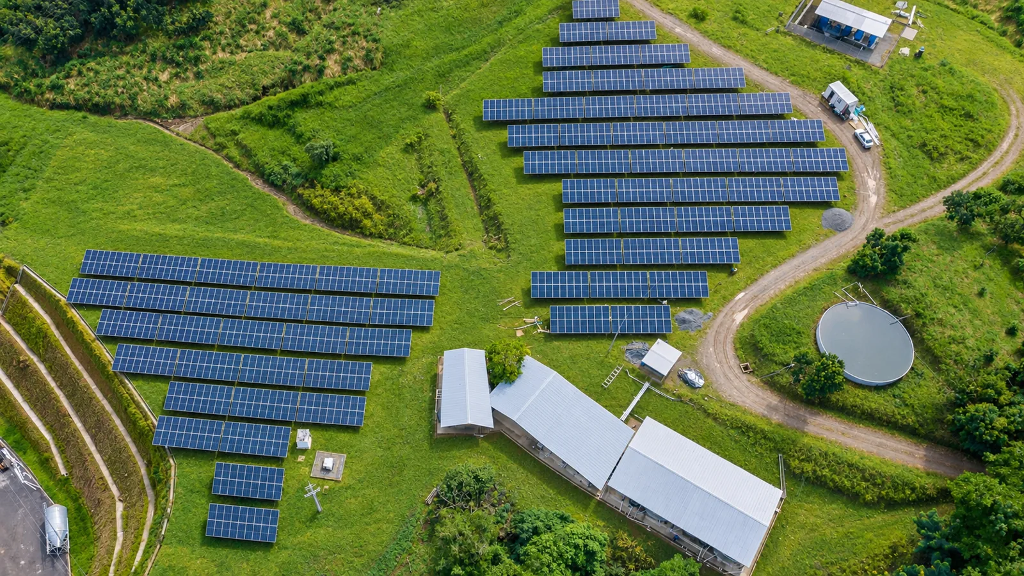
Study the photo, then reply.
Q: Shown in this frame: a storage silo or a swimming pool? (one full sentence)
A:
The image shows a storage silo.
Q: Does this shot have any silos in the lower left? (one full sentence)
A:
Yes, I can see a silo in the lower left.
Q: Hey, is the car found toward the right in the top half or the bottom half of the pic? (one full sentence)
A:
You can find the car found toward the right in the top half.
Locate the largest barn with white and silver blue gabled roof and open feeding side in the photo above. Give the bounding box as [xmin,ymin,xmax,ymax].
[600,417,788,576]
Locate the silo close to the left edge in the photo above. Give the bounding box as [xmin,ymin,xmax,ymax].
[43,503,71,558]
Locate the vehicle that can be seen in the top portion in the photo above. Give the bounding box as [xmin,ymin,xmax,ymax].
[852,129,876,151]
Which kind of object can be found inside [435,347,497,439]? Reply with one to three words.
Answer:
shed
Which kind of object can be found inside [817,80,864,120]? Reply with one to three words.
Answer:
building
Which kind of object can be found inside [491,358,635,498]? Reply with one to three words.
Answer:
barn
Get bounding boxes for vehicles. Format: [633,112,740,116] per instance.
[0,454,13,477]
[852,129,876,151]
